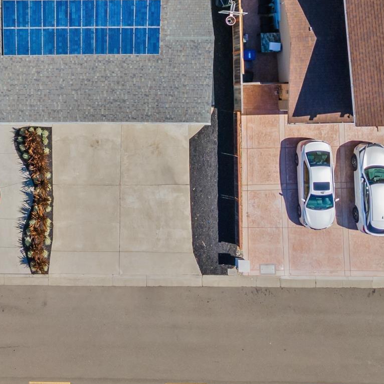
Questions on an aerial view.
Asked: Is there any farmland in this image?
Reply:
No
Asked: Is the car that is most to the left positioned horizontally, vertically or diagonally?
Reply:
vertically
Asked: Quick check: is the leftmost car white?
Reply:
Yes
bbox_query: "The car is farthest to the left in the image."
[291,138,339,232]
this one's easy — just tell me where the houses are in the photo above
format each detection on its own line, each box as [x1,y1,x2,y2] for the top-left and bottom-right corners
[0,0,218,124]
[279,0,384,128]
